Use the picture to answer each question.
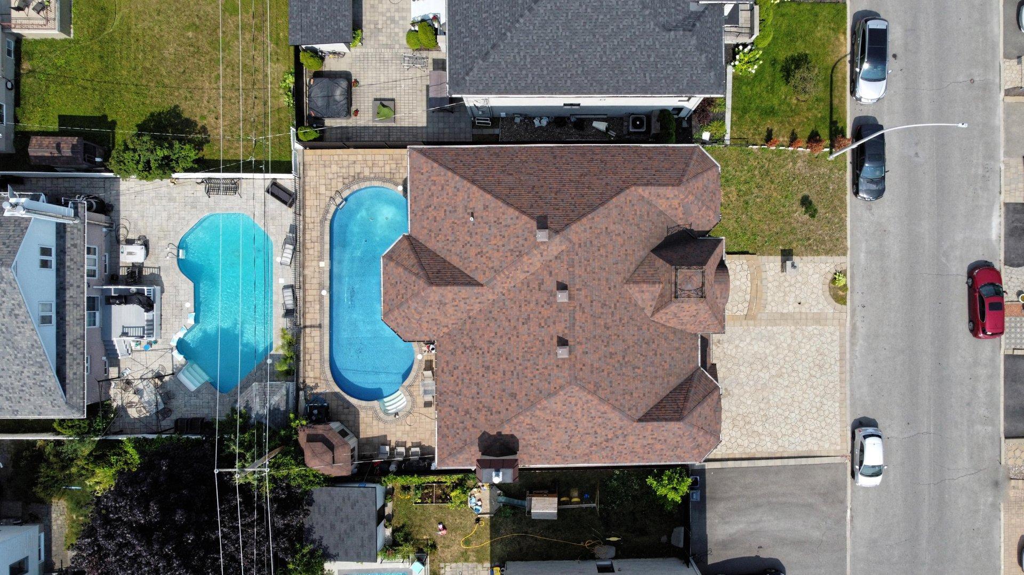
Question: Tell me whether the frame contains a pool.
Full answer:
Yes, looking at the shot, I can spot a pool.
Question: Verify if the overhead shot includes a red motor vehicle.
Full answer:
Yes, this view includes a red motor vehicle.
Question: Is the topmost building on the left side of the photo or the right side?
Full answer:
It is on the left.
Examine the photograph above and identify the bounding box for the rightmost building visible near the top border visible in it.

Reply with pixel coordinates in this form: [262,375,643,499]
[445,0,759,126]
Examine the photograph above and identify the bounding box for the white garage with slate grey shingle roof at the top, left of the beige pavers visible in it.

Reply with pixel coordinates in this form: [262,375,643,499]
[288,0,353,51]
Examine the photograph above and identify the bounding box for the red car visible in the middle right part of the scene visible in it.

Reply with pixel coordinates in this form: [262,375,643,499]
[963,262,1008,337]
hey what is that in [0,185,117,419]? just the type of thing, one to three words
house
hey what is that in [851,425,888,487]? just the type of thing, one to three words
car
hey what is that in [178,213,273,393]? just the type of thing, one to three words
swimming pool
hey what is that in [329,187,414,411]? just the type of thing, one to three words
swimming pool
